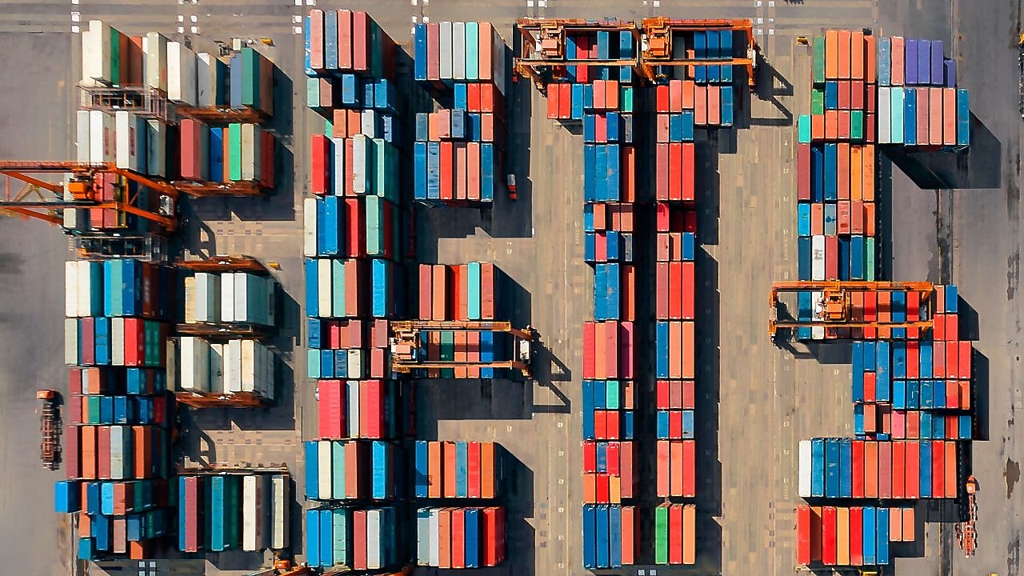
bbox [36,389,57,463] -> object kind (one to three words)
truck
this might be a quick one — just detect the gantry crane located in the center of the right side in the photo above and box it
[769,278,934,346]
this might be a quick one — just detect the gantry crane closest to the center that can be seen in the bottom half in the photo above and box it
[388,318,535,382]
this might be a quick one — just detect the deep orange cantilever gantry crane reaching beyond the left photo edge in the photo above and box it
[0,158,175,238]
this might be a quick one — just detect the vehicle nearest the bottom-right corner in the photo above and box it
[963,477,978,555]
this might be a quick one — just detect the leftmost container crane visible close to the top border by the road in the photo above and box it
[515,15,647,106]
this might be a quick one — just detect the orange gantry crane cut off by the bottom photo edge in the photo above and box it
[260,553,432,576]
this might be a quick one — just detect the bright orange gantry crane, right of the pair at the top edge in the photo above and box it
[641,15,758,106]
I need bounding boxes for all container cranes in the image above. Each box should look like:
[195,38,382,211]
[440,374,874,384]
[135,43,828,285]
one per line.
[769,278,934,346]
[260,553,432,576]
[515,15,647,106]
[641,15,758,106]
[388,318,535,382]
[0,158,175,238]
